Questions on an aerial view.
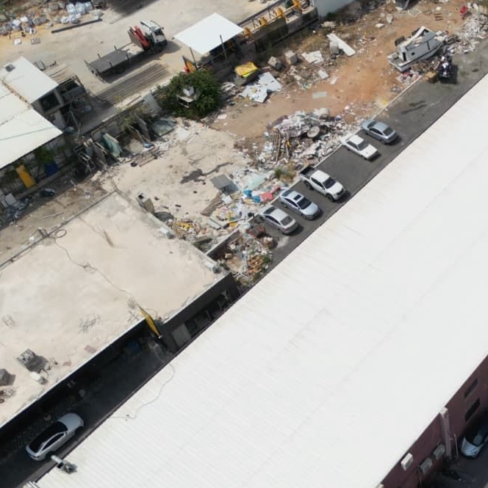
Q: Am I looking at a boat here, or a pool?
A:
boat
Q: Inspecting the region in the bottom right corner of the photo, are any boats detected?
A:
No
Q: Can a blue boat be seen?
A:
No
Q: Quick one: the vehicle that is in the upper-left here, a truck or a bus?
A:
truck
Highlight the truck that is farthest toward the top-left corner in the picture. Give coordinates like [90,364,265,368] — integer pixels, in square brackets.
[85,21,171,73]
